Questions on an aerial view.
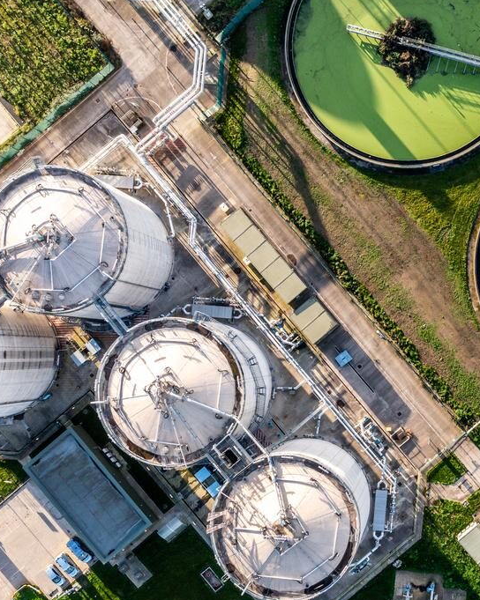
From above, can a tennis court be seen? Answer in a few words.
No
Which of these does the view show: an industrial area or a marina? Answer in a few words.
industrial area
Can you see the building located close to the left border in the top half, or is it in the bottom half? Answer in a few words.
bottom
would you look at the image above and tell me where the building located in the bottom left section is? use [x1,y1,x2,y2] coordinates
[23,427,160,564]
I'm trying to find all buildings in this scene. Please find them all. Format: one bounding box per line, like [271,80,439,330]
[23,427,160,564]
[456,518,480,566]
[221,207,309,303]
[290,296,341,343]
